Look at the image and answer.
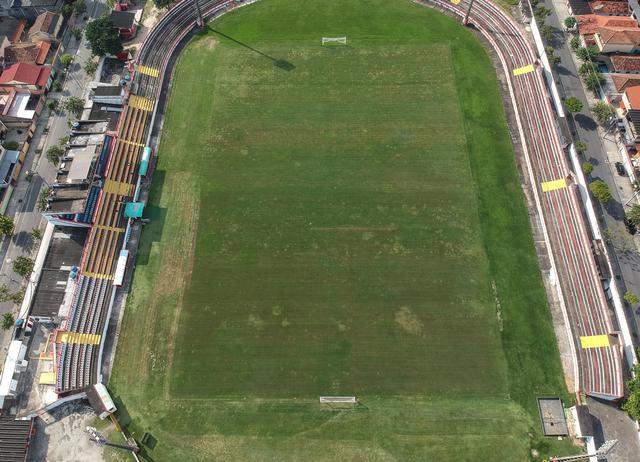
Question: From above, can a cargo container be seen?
No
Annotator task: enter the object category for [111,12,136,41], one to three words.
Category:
house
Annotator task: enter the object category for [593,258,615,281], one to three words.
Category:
shed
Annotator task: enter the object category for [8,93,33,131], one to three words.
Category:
house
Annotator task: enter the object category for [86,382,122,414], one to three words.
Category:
building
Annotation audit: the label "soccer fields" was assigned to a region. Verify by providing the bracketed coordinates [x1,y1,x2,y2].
[164,40,514,403]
